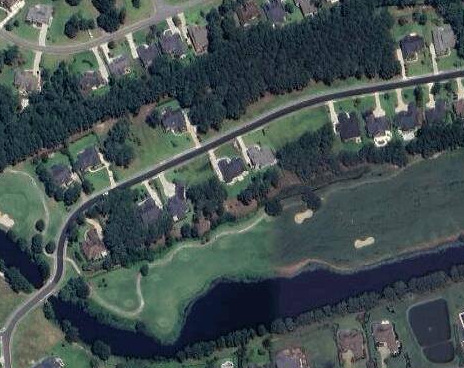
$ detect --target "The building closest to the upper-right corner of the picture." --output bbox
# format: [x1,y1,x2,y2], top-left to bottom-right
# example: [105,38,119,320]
[435,24,455,53]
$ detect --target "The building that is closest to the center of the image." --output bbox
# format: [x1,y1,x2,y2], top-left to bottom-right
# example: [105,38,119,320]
[217,155,245,183]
